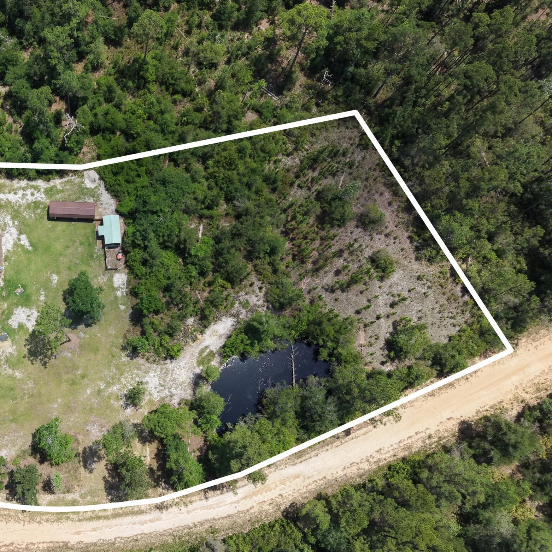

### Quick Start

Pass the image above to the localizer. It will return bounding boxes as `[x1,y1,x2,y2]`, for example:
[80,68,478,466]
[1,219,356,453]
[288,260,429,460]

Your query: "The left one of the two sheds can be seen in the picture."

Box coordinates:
[50,201,96,219]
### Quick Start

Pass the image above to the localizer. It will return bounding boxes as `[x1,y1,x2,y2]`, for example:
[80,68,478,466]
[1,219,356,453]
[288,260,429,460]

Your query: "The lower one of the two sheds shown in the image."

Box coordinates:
[95,214,121,251]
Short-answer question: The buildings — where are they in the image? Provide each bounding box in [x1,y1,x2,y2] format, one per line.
[50,201,96,219]
[95,214,121,251]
